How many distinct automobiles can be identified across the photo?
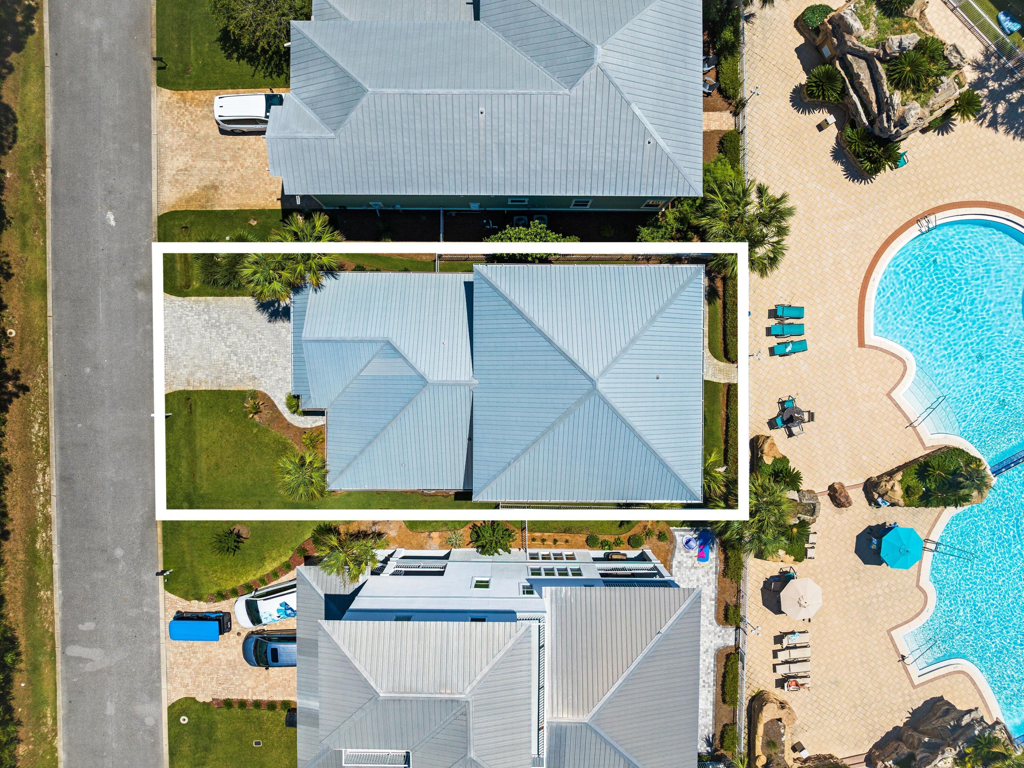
3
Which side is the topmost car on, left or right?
left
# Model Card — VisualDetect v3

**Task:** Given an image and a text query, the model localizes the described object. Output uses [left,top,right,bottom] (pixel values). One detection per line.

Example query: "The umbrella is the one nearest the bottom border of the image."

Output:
[779,576,823,619]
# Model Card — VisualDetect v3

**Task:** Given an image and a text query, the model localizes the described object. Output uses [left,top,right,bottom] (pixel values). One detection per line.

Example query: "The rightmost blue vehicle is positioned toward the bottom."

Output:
[242,628,296,670]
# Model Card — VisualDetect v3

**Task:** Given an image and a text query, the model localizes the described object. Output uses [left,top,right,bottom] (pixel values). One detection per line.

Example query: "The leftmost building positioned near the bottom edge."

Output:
[294,547,704,768]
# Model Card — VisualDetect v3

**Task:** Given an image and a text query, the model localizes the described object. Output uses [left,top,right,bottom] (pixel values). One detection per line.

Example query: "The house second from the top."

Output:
[288,260,708,506]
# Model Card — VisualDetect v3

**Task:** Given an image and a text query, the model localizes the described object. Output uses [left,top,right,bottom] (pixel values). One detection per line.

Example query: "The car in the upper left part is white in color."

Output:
[215,89,283,134]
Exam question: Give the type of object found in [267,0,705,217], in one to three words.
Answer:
house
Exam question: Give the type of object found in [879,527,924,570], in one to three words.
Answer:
umbrella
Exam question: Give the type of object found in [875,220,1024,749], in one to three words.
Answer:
swimming pool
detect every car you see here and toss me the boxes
[215,89,283,134]
[242,628,296,670]
[230,574,296,623]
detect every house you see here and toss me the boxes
[267,0,705,217]
[288,260,708,506]
[294,547,704,768]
